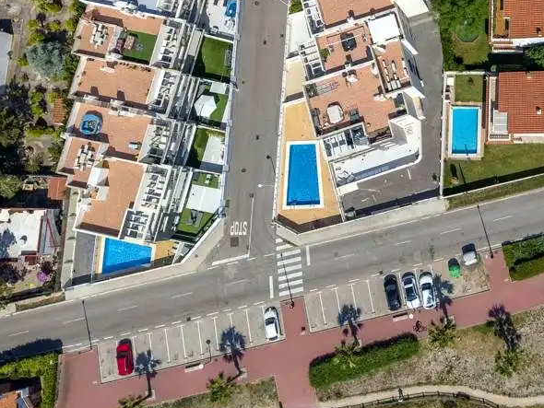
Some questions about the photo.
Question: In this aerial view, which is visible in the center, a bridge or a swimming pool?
swimming pool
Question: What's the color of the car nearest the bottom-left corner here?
red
